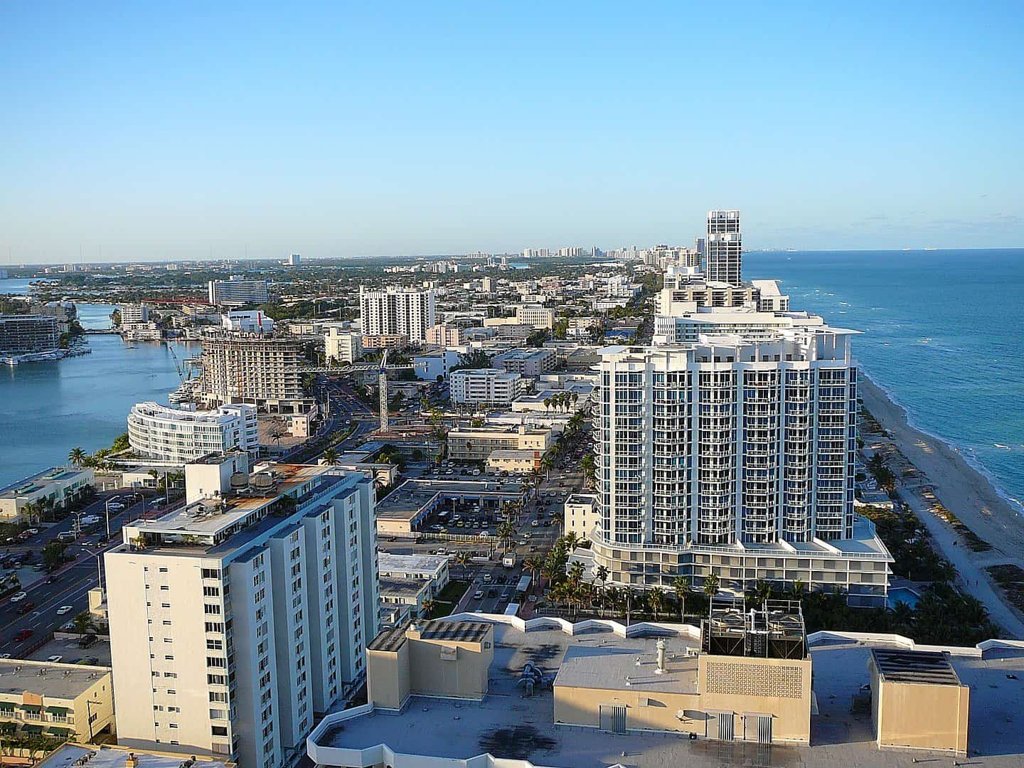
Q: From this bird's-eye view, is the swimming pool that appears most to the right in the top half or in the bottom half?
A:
bottom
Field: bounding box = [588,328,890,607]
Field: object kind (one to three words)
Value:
building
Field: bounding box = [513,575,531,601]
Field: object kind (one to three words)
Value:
vehicle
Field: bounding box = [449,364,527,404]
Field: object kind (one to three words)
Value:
building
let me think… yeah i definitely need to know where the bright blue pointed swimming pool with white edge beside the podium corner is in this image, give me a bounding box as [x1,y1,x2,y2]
[882,584,924,614]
